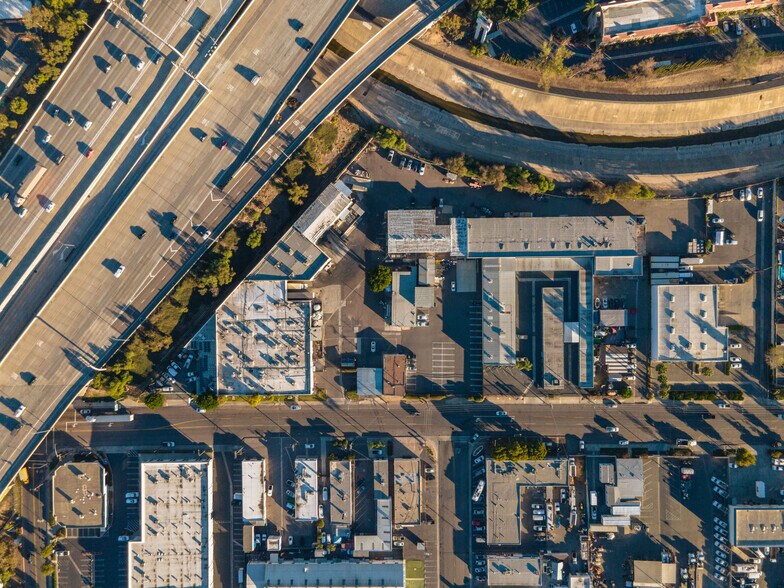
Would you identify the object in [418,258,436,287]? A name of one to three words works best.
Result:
shed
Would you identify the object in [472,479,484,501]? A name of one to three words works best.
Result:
vehicle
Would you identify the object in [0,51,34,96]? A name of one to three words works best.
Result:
house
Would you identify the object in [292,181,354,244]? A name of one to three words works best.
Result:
building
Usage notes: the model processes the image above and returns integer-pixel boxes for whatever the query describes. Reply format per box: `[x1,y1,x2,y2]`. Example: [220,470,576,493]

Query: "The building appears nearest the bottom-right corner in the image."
[726,503,784,547]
